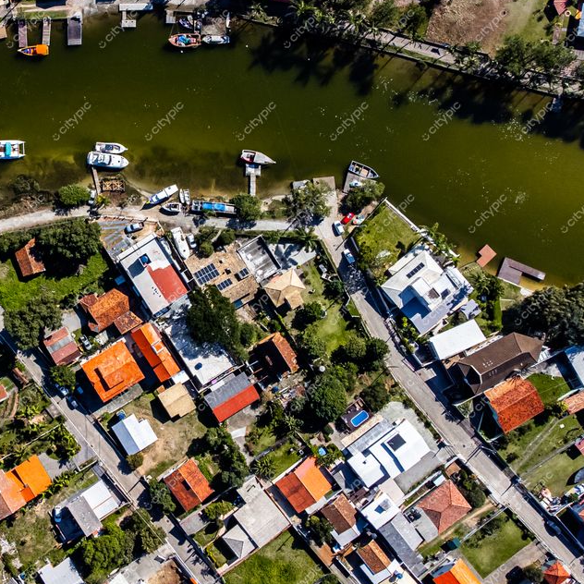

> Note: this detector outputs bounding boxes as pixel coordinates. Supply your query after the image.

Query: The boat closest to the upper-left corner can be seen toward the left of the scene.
[17,43,48,57]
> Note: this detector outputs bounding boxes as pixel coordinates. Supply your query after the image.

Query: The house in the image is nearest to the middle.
[264,270,305,308]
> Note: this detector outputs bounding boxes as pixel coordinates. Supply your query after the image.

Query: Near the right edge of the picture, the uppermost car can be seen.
[546,521,561,537]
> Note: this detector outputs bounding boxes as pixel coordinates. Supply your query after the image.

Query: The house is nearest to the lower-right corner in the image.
[541,560,571,584]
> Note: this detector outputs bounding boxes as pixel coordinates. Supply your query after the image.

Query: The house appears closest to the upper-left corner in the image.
[15,239,45,276]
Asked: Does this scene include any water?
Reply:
Yes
